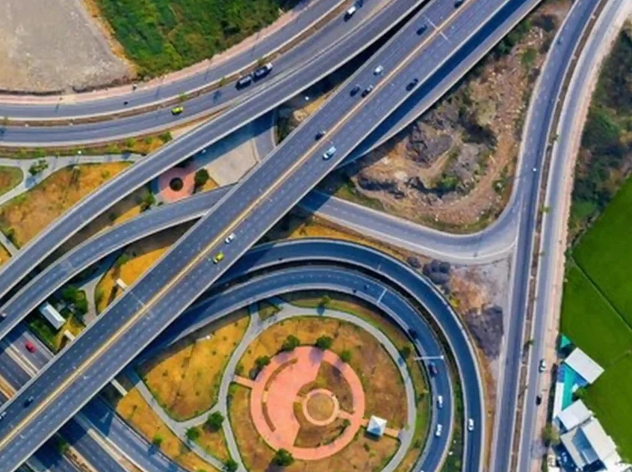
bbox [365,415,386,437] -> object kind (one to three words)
building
